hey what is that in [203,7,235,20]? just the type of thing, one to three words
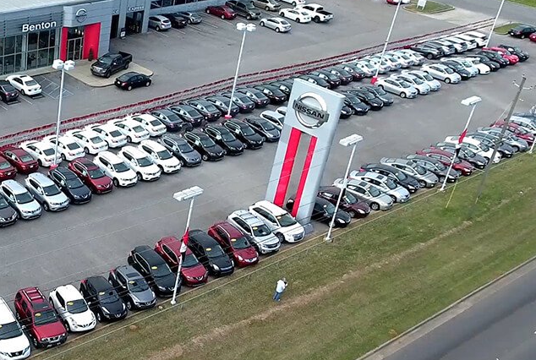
vehicle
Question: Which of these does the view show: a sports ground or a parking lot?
parking lot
